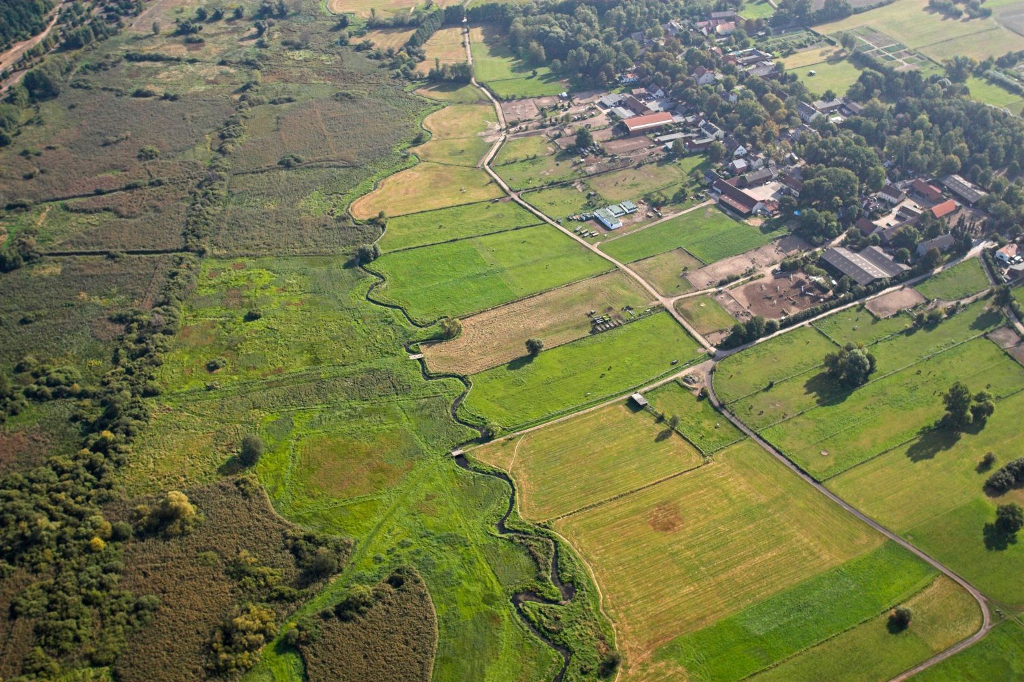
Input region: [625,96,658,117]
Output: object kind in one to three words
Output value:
barn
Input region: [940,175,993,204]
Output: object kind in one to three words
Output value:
shed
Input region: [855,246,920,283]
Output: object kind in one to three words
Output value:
building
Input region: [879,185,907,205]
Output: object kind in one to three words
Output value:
house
